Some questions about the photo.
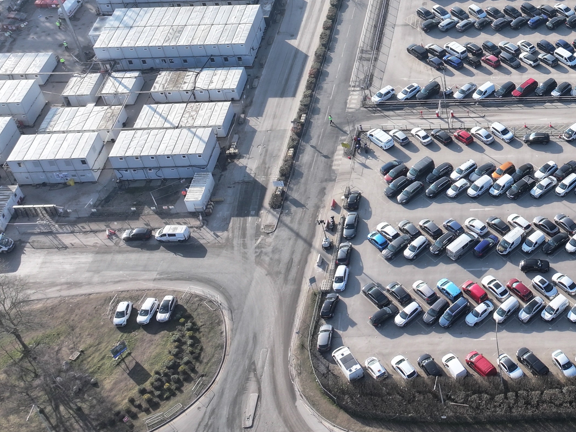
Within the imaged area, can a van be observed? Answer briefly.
Yes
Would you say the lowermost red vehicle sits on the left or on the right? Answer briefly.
right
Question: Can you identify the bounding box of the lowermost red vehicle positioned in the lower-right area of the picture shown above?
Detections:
[469,349,495,380]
